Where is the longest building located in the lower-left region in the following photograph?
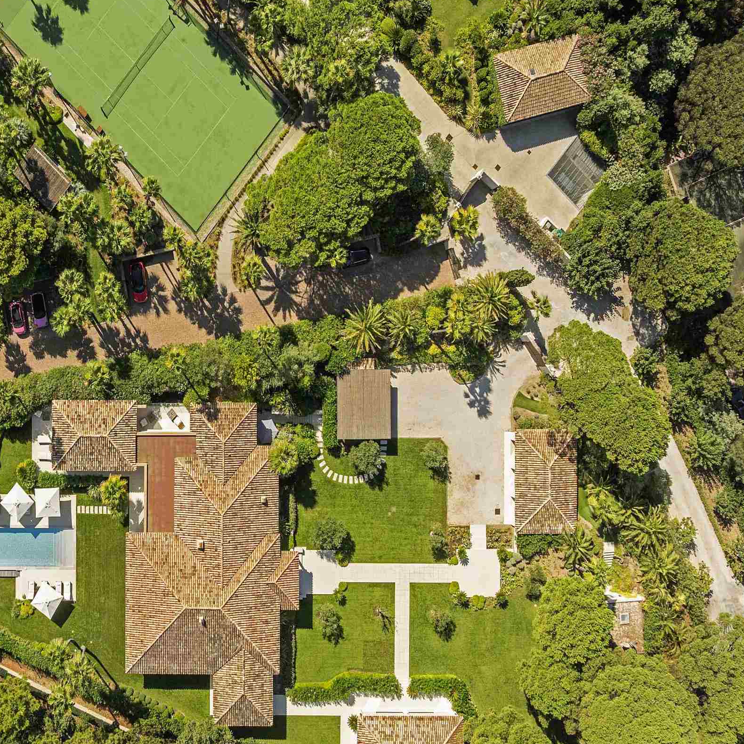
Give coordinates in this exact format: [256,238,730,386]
[51,399,300,728]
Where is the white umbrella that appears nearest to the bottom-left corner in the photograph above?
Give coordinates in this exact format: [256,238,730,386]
[31,583,64,619]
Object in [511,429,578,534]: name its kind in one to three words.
building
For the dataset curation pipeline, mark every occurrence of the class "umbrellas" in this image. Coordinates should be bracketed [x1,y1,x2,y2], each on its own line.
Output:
[31,583,64,619]
[1,483,34,523]
[35,487,61,517]
[261,419,279,443]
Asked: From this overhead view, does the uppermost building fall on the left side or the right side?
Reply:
right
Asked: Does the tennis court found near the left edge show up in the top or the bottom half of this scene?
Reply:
top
